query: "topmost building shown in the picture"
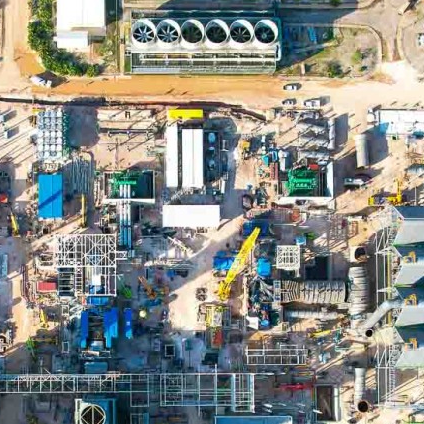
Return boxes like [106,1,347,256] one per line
[56,0,105,38]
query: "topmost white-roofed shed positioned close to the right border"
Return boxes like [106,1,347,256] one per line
[379,110,424,139]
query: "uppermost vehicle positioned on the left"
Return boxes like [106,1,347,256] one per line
[30,74,50,88]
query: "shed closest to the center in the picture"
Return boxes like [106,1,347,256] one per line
[161,205,220,232]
